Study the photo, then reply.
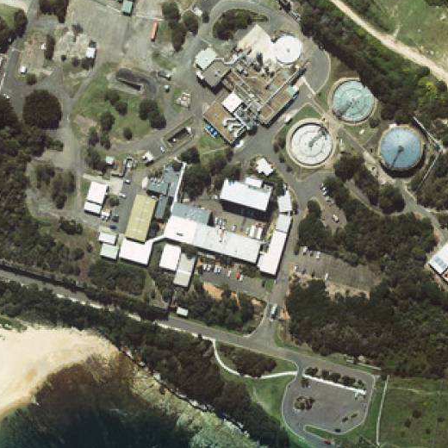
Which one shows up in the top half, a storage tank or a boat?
storage tank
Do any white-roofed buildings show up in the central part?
Yes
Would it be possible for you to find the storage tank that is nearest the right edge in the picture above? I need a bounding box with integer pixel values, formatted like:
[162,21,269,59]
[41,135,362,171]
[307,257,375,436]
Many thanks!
[379,127,424,172]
